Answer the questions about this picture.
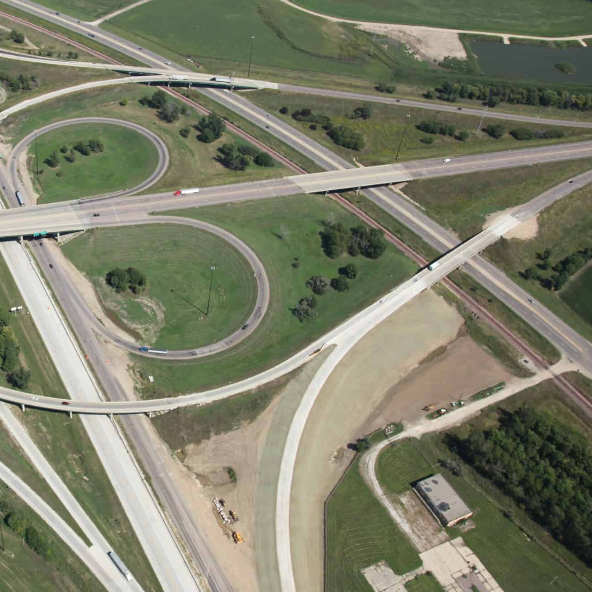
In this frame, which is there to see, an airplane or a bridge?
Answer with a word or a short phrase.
bridge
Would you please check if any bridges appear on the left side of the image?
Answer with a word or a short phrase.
Yes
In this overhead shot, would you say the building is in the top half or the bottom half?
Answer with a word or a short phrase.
bottom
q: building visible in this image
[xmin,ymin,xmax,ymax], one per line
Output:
[415,472,474,529]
